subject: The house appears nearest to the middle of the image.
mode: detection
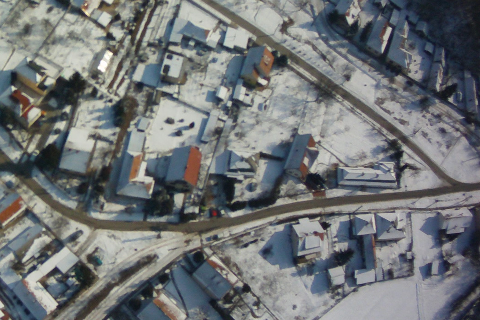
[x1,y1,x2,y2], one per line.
[224,150,256,179]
